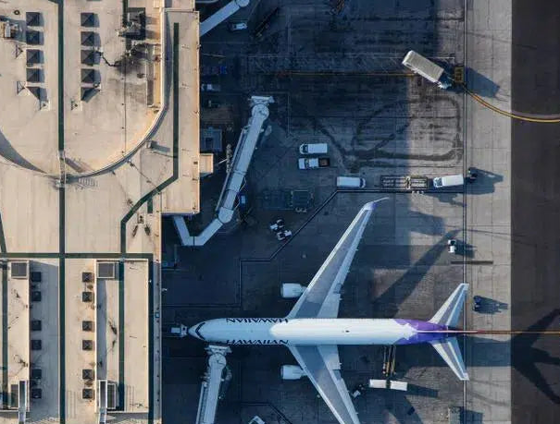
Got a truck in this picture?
Yes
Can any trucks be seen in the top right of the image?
Yes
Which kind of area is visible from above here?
airport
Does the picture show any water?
No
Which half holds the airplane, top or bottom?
bottom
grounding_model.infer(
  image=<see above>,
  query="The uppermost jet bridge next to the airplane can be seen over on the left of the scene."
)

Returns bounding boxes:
[167,93,272,247]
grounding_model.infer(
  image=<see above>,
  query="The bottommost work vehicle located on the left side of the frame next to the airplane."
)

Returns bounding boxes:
[170,324,188,337]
